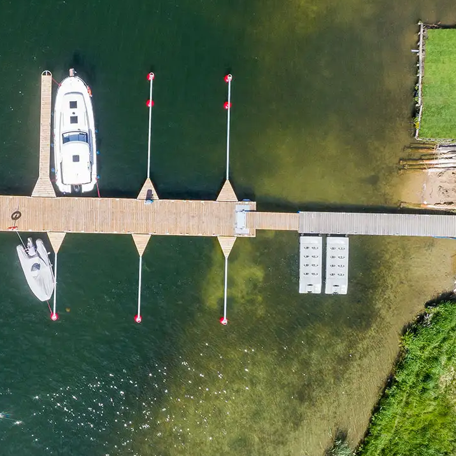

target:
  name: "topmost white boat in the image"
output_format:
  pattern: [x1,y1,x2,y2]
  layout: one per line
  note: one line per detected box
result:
[49,68,100,199]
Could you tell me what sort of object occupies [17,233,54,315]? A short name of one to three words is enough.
boat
